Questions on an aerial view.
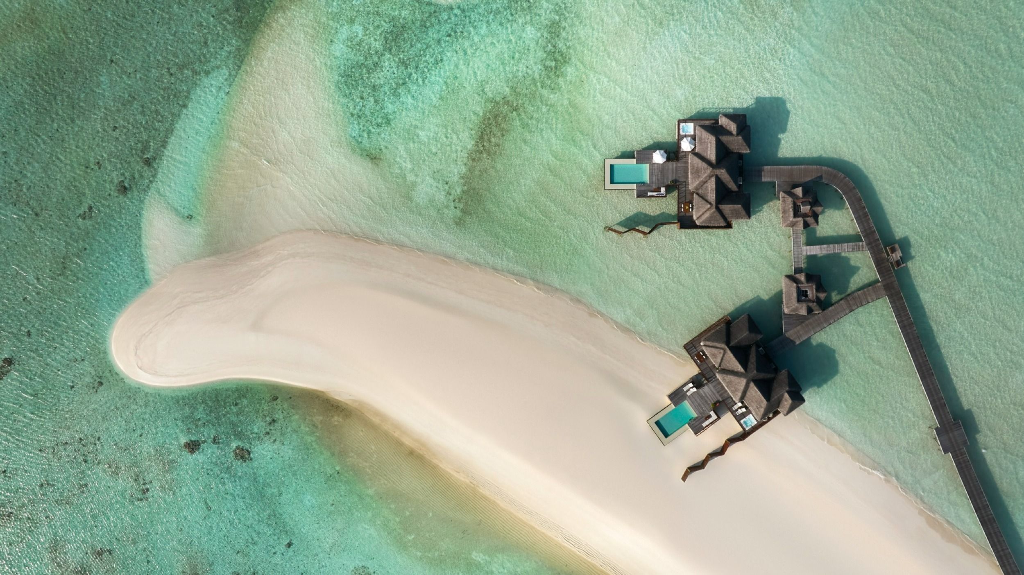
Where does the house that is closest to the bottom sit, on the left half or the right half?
right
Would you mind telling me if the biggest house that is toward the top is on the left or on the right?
right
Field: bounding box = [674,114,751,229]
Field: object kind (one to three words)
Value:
house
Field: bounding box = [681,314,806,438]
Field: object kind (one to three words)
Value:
house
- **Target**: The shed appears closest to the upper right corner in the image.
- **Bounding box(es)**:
[778,186,825,231]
